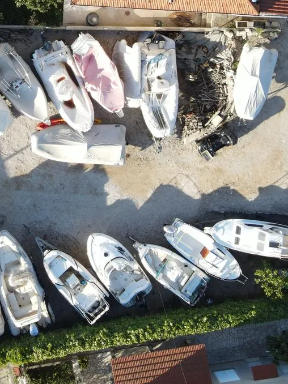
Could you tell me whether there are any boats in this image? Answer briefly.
Yes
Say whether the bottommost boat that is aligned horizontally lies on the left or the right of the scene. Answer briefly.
right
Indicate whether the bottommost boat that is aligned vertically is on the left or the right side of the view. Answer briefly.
left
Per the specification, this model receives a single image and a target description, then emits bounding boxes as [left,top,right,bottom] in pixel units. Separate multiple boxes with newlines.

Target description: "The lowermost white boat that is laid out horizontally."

[206,217,288,261]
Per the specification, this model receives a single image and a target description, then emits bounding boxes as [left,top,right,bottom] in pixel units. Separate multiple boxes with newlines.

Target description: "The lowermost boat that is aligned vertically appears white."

[0,232,49,342]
